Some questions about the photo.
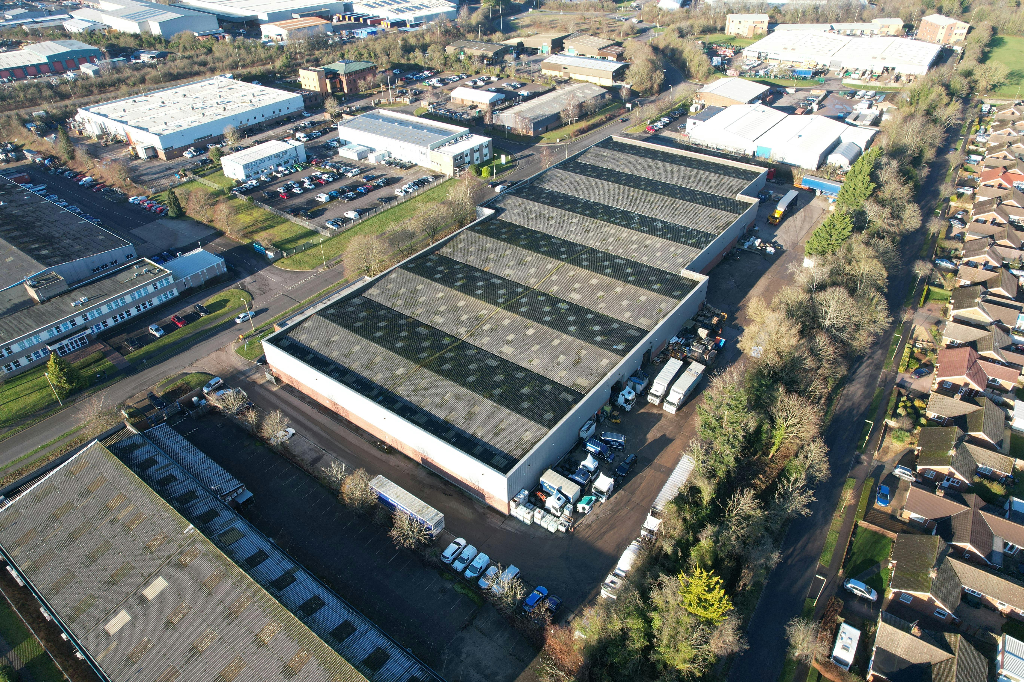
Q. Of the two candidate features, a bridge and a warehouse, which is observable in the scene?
warehouse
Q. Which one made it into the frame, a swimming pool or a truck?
truck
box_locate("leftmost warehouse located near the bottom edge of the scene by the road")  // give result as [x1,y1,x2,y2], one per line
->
[0,419,451,682]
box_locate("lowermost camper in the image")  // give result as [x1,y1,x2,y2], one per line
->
[826,620,862,681]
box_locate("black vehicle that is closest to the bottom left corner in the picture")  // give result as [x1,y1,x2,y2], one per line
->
[145,393,167,410]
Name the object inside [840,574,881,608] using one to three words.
car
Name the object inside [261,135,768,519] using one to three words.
warehouse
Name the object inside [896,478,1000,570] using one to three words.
house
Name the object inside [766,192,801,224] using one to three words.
truck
